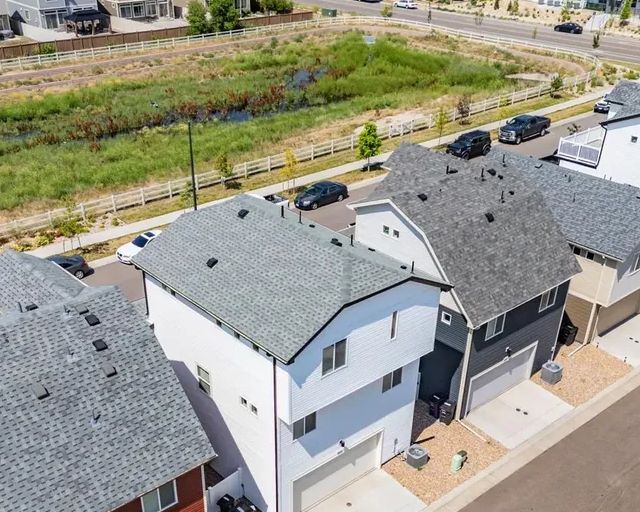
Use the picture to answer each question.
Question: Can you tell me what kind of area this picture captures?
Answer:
residential area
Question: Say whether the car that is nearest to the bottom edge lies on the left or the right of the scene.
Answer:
left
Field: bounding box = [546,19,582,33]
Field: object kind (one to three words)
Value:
car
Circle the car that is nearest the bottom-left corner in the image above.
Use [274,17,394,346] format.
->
[34,248,93,276]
